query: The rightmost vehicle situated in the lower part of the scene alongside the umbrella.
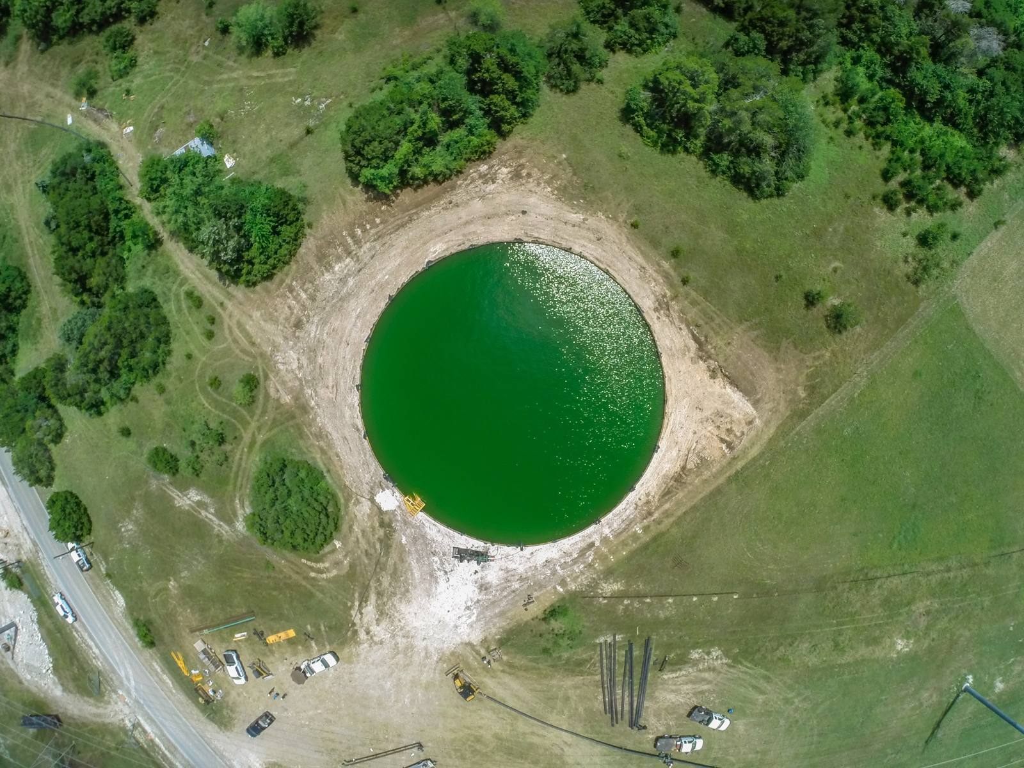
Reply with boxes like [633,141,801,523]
[301,651,337,676]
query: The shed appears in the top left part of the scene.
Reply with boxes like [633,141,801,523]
[167,137,217,163]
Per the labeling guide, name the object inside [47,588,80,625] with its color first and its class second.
white truck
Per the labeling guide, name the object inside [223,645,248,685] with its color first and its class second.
white truck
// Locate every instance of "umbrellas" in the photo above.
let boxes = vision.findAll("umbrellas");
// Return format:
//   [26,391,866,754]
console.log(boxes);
[292,668,308,685]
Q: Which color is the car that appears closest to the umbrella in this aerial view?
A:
white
